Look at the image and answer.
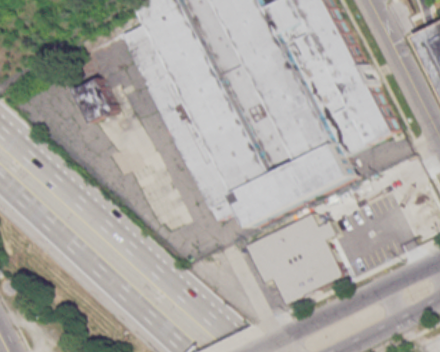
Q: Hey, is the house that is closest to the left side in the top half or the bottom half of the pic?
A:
top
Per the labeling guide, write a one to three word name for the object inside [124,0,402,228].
building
